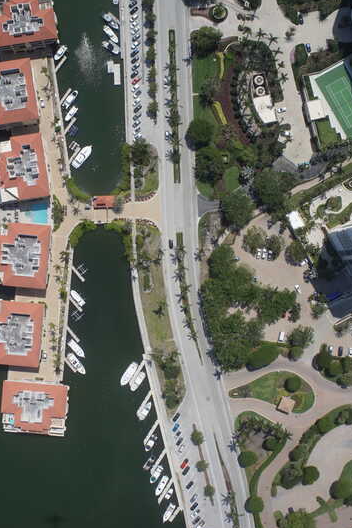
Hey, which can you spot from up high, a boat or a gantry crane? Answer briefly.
boat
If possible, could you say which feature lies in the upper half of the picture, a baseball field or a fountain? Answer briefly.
fountain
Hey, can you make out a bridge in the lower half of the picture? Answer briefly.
No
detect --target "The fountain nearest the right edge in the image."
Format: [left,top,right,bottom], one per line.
[75,31,110,91]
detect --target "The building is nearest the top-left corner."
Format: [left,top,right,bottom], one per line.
[0,0,61,55]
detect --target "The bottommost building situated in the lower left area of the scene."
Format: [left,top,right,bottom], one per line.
[2,377,71,436]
